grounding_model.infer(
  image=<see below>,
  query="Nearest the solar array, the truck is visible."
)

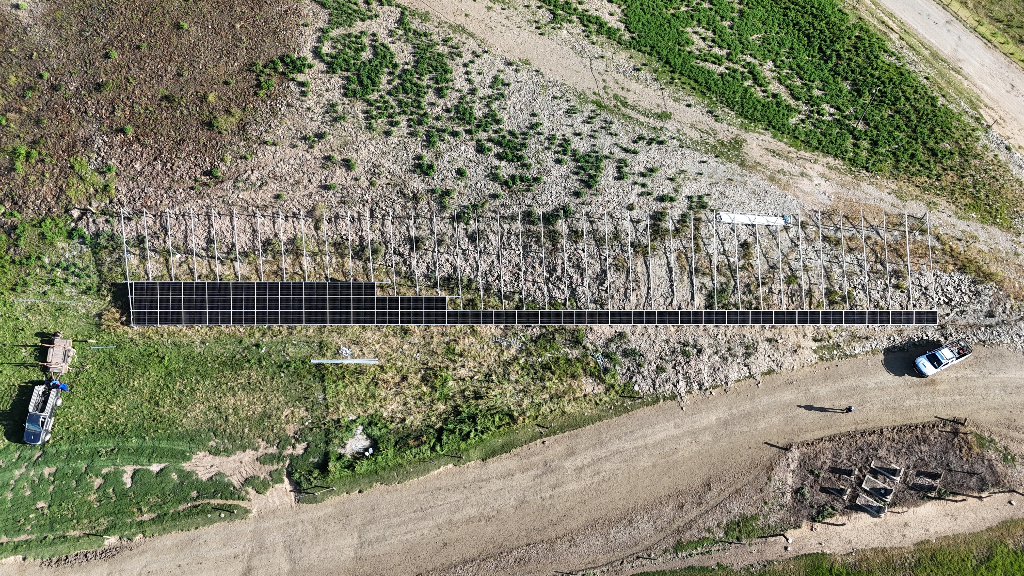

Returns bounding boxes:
[911,337,975,380]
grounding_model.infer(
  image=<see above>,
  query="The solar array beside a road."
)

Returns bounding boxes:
[121,208,938,328]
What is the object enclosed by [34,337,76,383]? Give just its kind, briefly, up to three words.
trailer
